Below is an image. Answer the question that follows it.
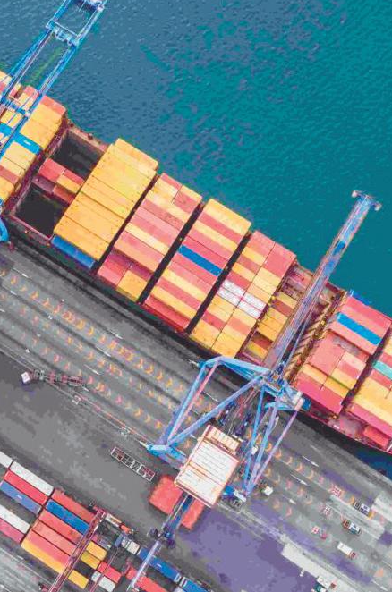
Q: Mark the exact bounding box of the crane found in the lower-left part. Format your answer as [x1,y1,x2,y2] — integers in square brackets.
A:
[36,493,133,592]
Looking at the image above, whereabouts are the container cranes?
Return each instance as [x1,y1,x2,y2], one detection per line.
[131,184,388,592]
[0,0,112,254]
[36,493,133,592]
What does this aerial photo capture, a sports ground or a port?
port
